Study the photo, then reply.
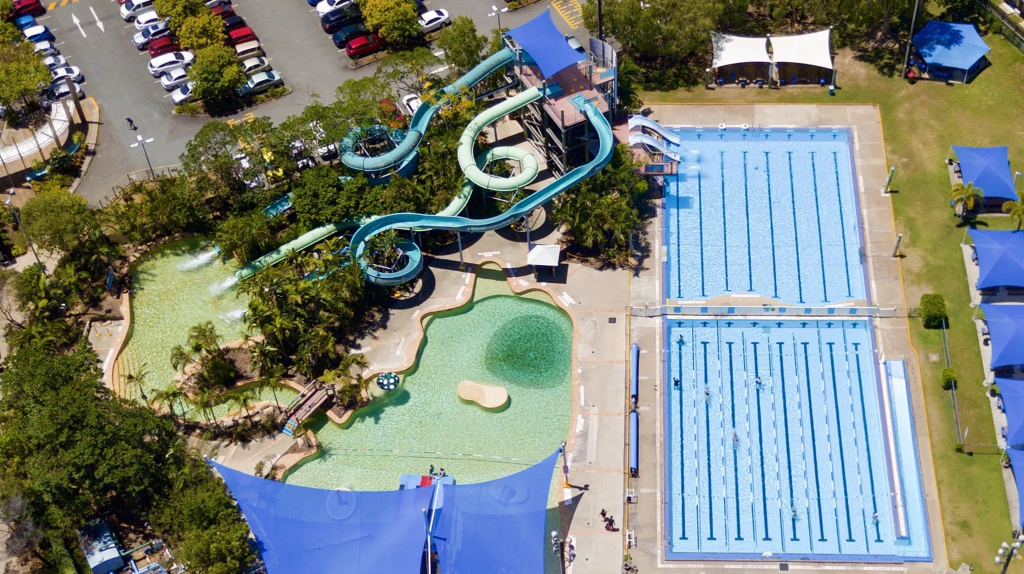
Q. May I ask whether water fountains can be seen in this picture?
Yes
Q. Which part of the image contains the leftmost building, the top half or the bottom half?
bottom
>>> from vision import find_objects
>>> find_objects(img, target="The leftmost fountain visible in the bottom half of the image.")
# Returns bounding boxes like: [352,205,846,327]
[375,372,401,396]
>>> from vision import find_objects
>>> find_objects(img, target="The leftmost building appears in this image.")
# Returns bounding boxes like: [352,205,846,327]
[77,512,136,574]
